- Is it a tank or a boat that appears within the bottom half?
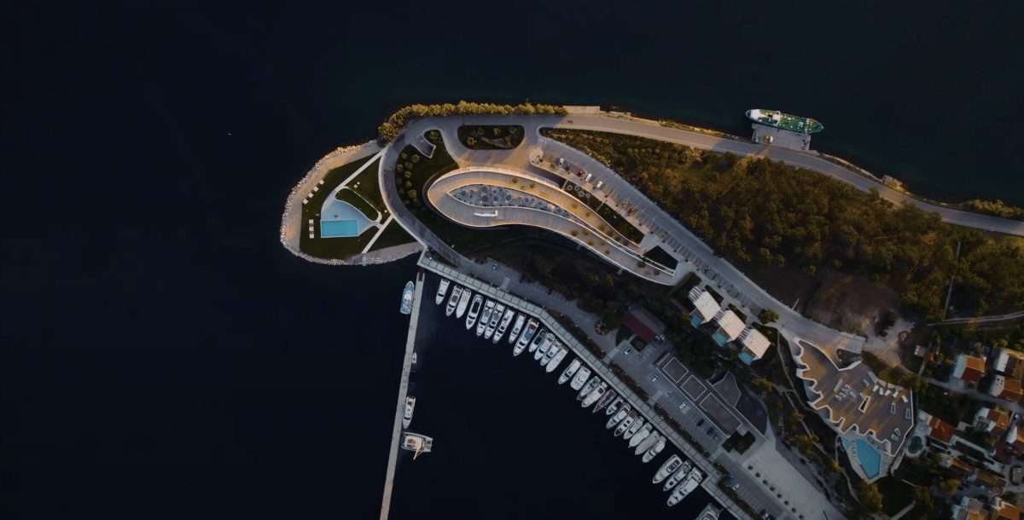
boat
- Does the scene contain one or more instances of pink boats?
No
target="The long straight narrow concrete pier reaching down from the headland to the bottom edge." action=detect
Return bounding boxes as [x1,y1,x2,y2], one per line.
[379,272,424,520]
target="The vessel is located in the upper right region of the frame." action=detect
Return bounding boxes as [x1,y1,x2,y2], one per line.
[743,107,824,133]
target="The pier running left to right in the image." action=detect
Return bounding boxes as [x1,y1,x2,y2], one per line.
[750,125,811,151]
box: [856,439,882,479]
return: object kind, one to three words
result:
swimming pool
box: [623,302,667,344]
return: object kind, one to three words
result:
building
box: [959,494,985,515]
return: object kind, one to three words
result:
house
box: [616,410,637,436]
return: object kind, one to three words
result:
boat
